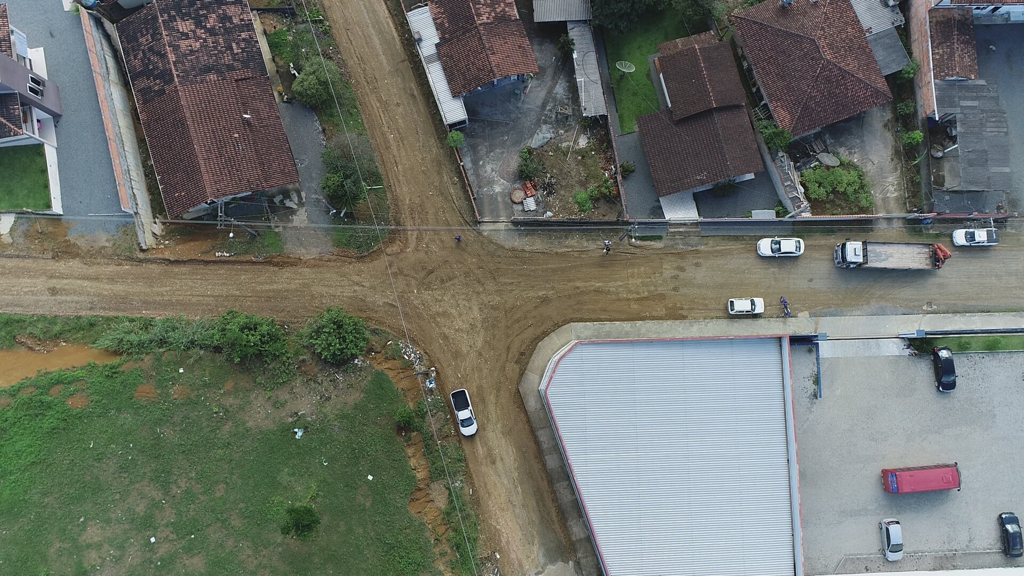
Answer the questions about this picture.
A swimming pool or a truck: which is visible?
truck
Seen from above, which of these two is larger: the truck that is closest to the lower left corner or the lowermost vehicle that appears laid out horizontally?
the vehicle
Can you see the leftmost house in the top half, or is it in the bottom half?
top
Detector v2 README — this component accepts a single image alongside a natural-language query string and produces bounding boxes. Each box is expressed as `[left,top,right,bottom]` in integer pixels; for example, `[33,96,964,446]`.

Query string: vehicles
[830,238,951,271]
[876,518,906,560]
[779,297,793,315]
[755,235,804,259]
[929,348,960,392]
[450,389,479,437]
[882,464,964,496]
[992,513,1024,558]
[726,295,764,317]
[949,227,1001,249]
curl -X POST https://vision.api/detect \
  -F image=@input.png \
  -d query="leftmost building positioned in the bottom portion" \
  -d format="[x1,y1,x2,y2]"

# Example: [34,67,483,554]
[540,338,803,576]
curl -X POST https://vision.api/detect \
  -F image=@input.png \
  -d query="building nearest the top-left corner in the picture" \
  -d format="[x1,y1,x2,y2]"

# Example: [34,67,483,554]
[0,2,61,149]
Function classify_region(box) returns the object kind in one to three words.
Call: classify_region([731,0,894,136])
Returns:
house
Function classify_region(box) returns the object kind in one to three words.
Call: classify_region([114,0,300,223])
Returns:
house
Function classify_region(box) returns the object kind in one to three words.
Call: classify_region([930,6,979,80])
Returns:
building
